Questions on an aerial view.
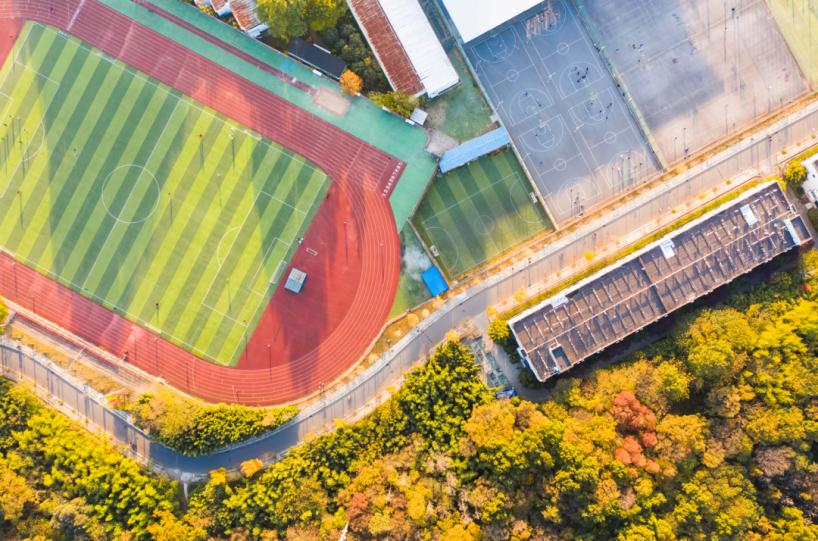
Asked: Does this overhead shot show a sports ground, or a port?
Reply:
sports ground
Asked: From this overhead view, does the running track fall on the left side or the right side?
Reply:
left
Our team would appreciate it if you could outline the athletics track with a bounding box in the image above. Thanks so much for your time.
[0,0,406,408]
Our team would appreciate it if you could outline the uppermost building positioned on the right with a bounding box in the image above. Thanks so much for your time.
[439,0,551,46]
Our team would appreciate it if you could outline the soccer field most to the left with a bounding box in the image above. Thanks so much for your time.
[0,20,332,368]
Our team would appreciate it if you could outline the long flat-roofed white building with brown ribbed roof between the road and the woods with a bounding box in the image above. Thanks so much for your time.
[506,184,813,382]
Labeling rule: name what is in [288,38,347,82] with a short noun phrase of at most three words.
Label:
building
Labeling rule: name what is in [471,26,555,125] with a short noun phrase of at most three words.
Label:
basketball court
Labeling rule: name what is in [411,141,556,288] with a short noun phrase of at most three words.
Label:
soccer field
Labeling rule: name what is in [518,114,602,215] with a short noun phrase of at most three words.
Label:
basketball court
